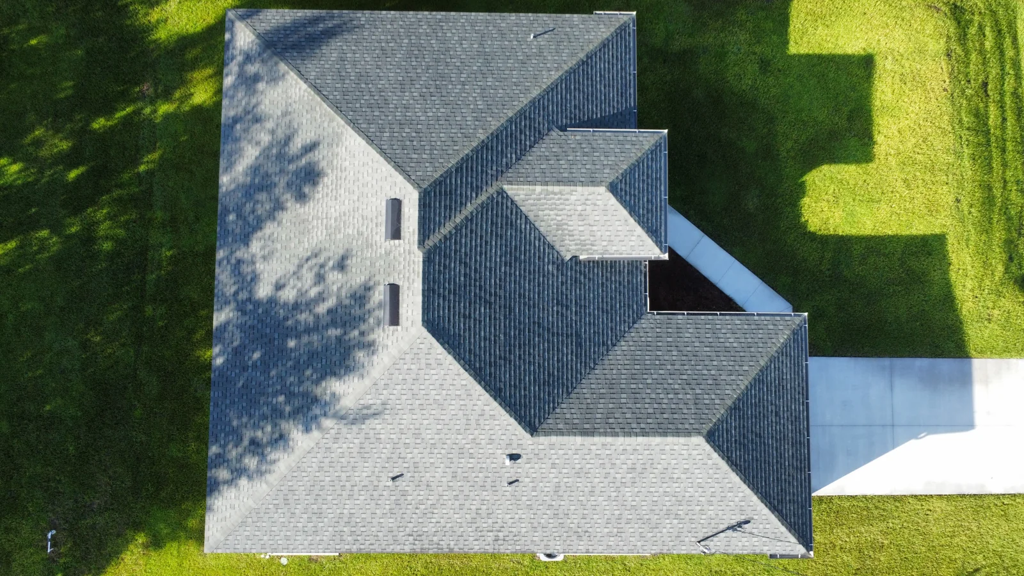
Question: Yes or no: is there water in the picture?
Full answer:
No, water can't be seen anywhere here.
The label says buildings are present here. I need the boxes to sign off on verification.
[202,7,816,559]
